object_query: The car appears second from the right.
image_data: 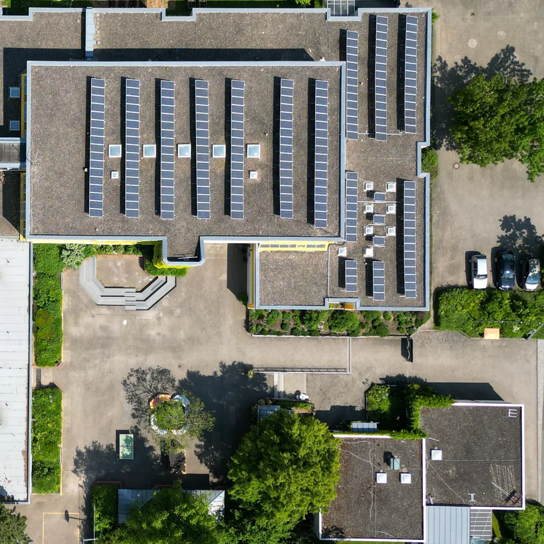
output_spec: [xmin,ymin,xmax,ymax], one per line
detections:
[494,251,518,290]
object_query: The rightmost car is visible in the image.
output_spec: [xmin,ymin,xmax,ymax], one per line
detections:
[519,256,543,291]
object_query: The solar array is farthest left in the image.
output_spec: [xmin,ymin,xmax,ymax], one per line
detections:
[88,76,107,216]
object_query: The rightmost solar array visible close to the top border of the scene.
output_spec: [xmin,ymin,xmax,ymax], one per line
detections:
[400,13,419,133]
